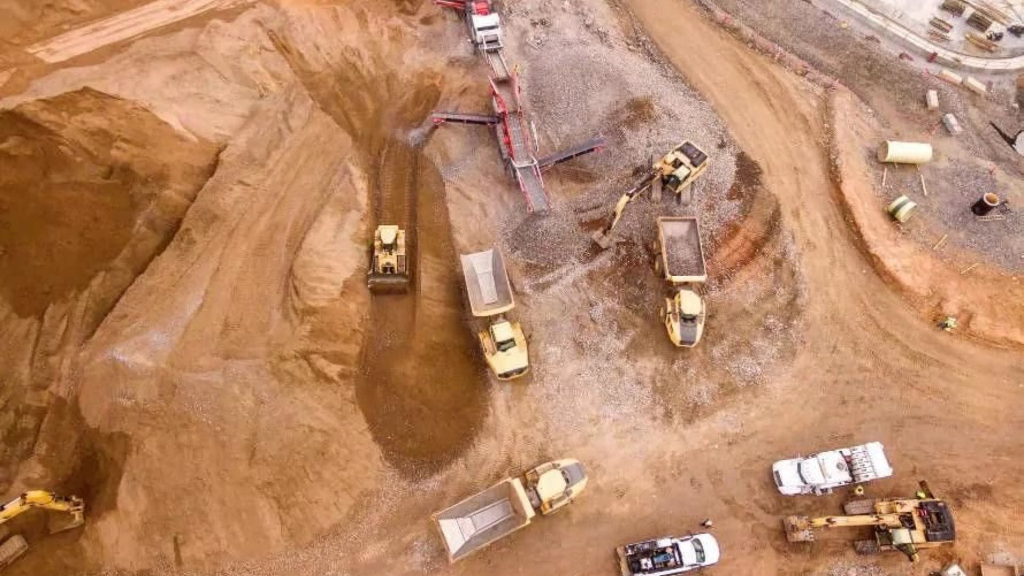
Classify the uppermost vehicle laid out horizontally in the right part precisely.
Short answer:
truck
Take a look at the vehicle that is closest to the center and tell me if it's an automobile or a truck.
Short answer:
truck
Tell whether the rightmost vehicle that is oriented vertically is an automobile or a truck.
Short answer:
truck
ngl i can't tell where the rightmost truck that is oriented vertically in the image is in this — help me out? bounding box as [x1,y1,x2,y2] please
[652,217,714,349]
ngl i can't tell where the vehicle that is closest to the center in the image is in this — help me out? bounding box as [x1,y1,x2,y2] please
[458,247,530,382]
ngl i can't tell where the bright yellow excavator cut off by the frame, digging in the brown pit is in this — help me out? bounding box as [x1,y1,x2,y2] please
[0,483,90,552]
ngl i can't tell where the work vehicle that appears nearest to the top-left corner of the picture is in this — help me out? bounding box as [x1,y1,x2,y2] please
[366,222,412,295]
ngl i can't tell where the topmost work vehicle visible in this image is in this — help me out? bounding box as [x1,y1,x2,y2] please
[611,144,707,241]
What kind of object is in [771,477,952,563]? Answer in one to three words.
work vehicle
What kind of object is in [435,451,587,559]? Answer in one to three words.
truck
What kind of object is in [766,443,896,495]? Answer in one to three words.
truck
